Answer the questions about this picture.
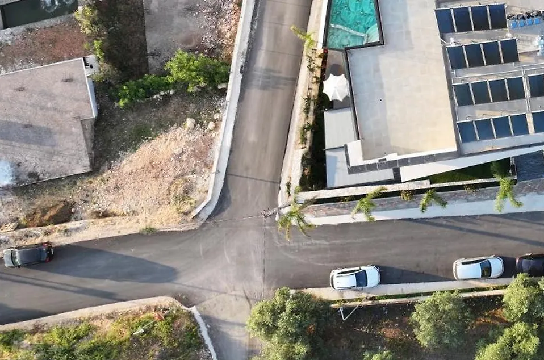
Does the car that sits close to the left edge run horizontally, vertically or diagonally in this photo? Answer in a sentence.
Seen from above, the car that sits close to the left edge lies horizontally.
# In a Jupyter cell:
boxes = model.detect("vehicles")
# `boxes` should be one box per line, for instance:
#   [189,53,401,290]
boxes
[454,255,504,281]
[516,251,544,275]
[330,263,381,291]
[4,242,55,269]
